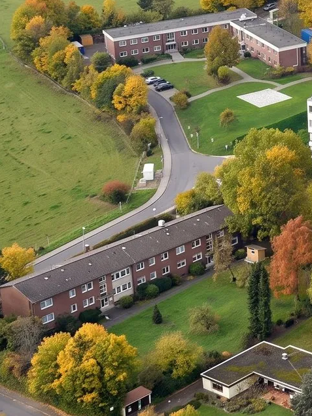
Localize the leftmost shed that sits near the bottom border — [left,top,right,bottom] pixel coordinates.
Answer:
[117,383,150,414]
